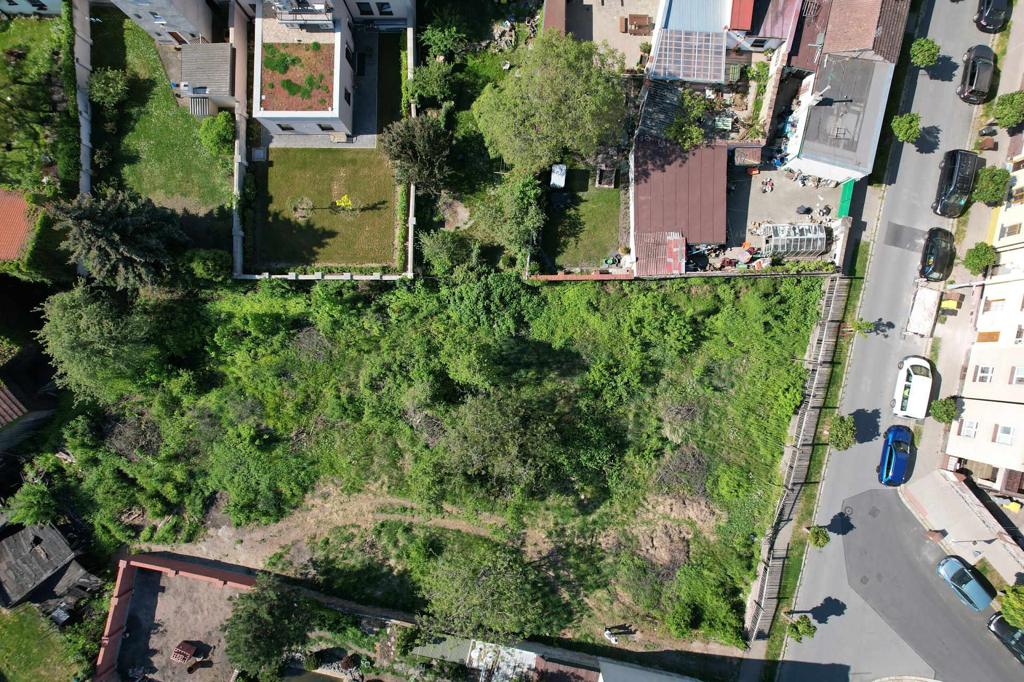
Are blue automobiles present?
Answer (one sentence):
Yes, a blue automobile is visible in the scene.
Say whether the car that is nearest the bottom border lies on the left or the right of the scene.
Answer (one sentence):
The car that is nearest the bottom border sits on the right side.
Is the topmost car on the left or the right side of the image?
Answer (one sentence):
The topmost car sits on the right side.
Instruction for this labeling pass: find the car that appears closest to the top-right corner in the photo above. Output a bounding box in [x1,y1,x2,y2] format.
[966,0,1007,36]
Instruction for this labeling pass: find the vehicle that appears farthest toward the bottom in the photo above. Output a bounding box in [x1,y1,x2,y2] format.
[980,608,1024,670]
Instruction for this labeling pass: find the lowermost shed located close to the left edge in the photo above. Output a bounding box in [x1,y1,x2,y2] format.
[0,516,104,609]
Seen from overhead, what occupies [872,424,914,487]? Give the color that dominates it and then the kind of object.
blue car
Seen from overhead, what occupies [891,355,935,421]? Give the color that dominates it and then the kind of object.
white car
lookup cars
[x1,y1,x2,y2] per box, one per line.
[952,46,996,107]
[936,553,999,614]
[931,147,981,219]
[980,608,1024,670]
[914,226,956,283]
[966,0,1007,36]
[891,355,935,421]
[872,424,914,487]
